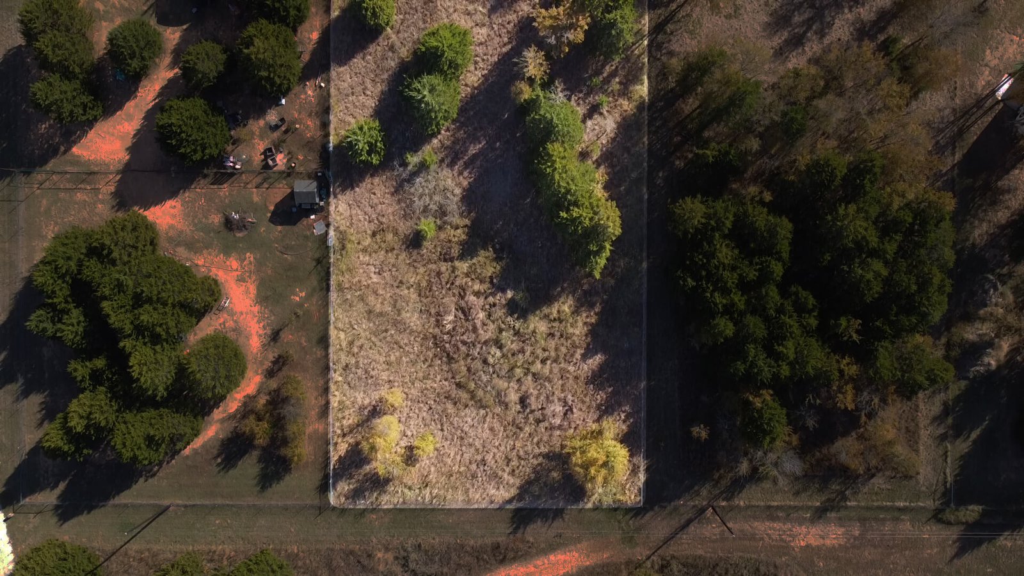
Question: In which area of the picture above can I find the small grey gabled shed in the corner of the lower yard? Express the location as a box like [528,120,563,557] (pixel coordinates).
[293,181,322,205]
